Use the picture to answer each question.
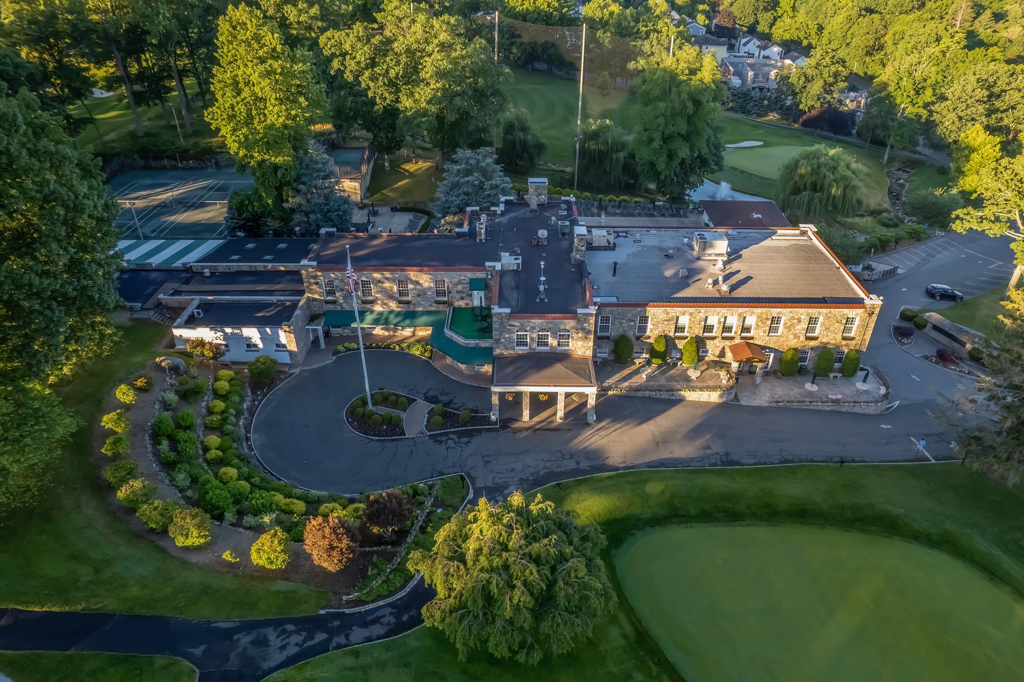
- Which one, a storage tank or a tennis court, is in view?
tennis court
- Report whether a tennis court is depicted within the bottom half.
No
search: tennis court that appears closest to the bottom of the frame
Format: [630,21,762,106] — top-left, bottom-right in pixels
[88,171,273,243]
